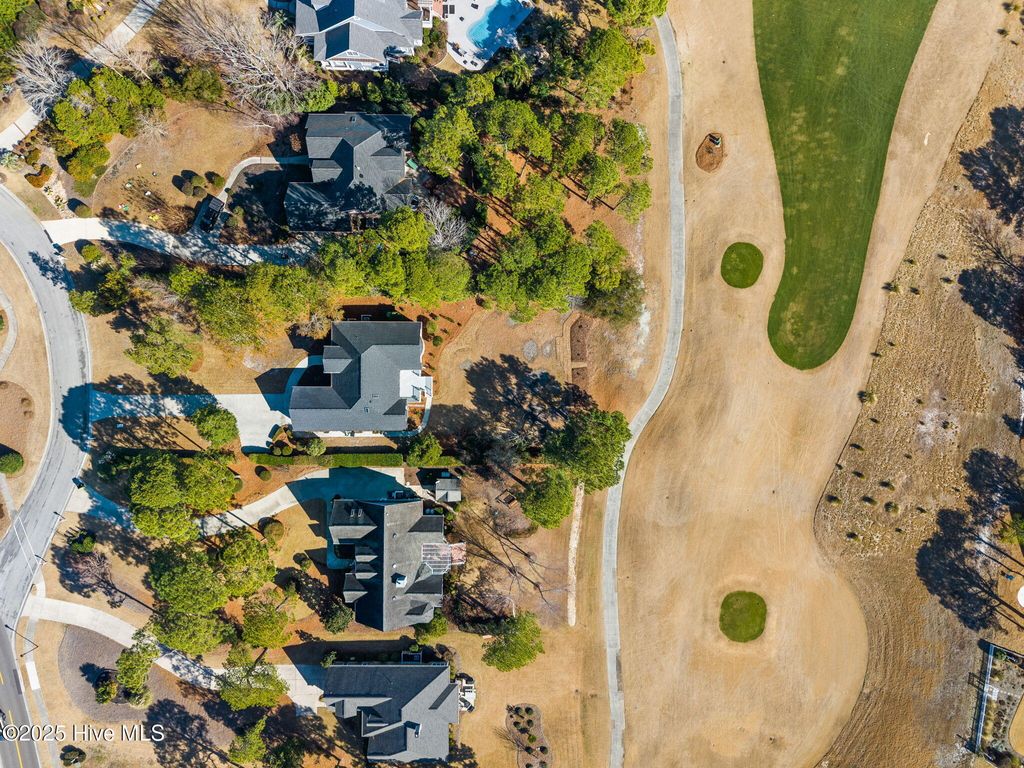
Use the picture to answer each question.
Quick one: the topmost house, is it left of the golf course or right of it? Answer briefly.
to its left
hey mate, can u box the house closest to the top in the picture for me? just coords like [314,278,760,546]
[295,0,436,69]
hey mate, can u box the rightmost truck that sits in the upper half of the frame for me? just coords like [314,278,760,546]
[196,191,223,234]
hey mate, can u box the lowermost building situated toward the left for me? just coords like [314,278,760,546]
[322,659,459,762]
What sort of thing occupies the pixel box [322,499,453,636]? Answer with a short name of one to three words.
house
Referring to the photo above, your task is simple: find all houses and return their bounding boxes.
[295,0,436,69]
[322,659,459,762]
[277,113,419,232]
[322,499,453,636]
[283,321,432,431]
